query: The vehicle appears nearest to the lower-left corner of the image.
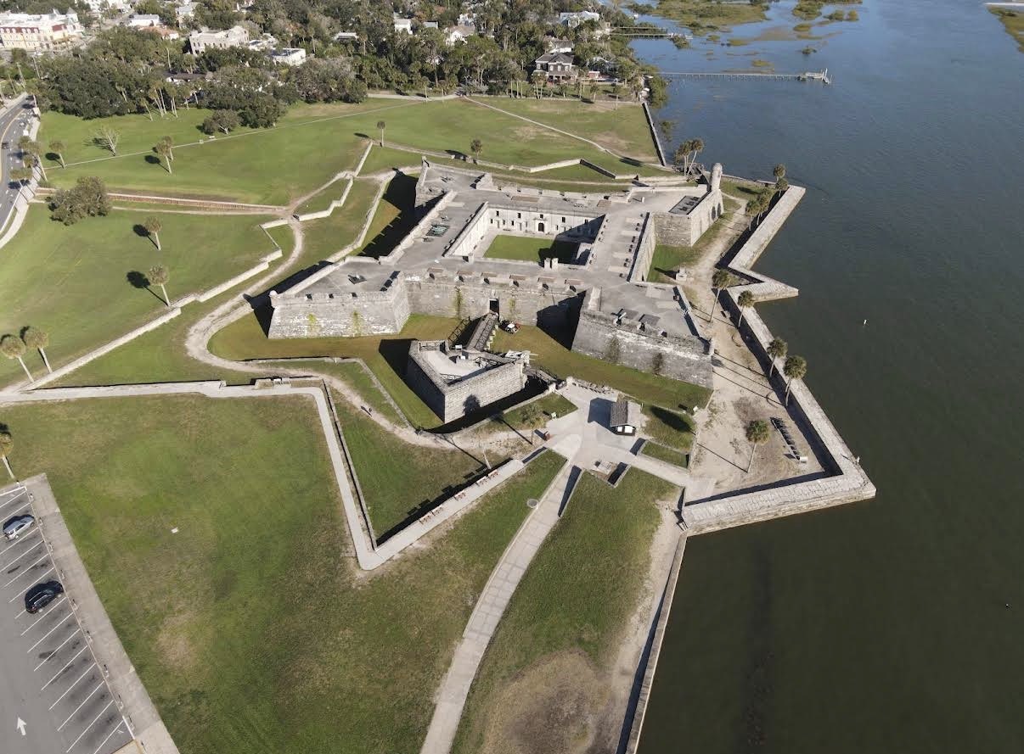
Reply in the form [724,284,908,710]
[22,584,64,612]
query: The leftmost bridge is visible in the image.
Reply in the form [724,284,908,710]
[469,304,503,356]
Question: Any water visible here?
Yes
